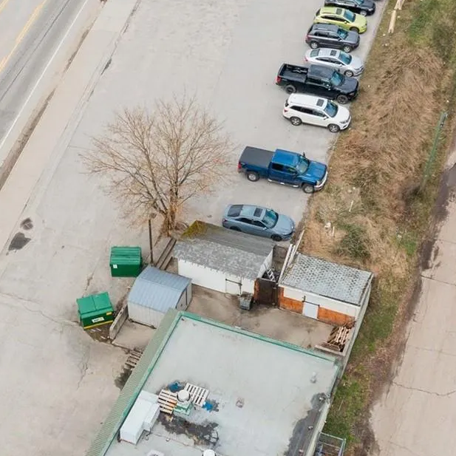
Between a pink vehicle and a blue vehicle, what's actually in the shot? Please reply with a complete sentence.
The one in the frame is a blue vehicle.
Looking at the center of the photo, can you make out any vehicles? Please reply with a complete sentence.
Yes, a vehicle shows up at the center of the photo.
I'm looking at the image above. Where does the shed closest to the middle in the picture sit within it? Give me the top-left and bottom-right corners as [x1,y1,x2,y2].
[173,215,276,298]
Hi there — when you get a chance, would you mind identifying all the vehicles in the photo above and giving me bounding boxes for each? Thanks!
[305,21,360,54]
[223,207,294,242]
[313,6,367,35]
[304,48,364,77]
[236,150,328,194]
[323,0,376,18]
[284,94,350,132]
[276,62,356,99]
